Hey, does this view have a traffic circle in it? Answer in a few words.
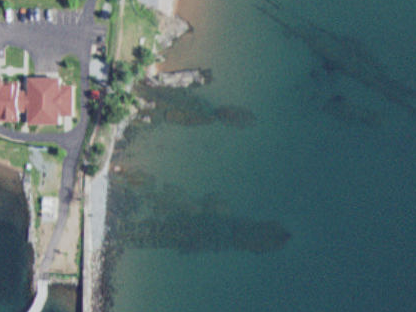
No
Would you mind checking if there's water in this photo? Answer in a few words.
Yes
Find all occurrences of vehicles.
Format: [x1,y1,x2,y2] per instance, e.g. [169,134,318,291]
[5,8,12,23]
[28,8,34,22]
[20,8,26,22]
[34,8,41,22]
[46,9,54,23]
[98,10,112,18]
